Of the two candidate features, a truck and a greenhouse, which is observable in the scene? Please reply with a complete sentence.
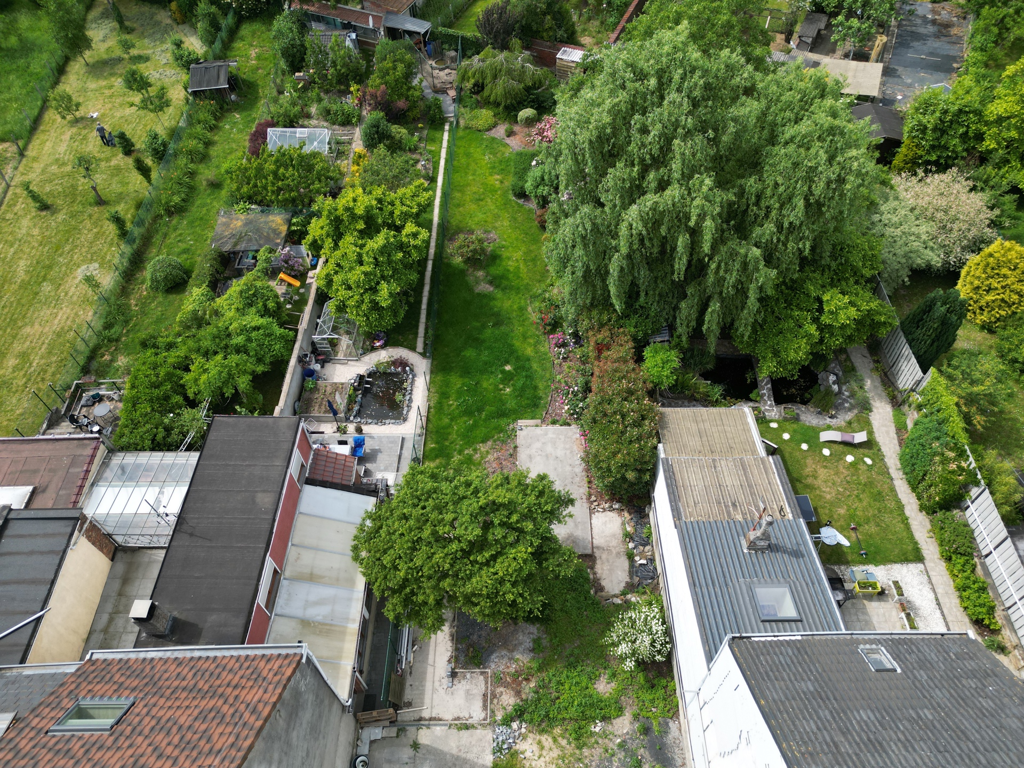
It is a greenhouse that can be seen here.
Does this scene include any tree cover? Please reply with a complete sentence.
Yes, there's tree cover in this view.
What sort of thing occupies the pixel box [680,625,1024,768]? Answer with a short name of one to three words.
house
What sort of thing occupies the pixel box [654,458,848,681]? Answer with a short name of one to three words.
shed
